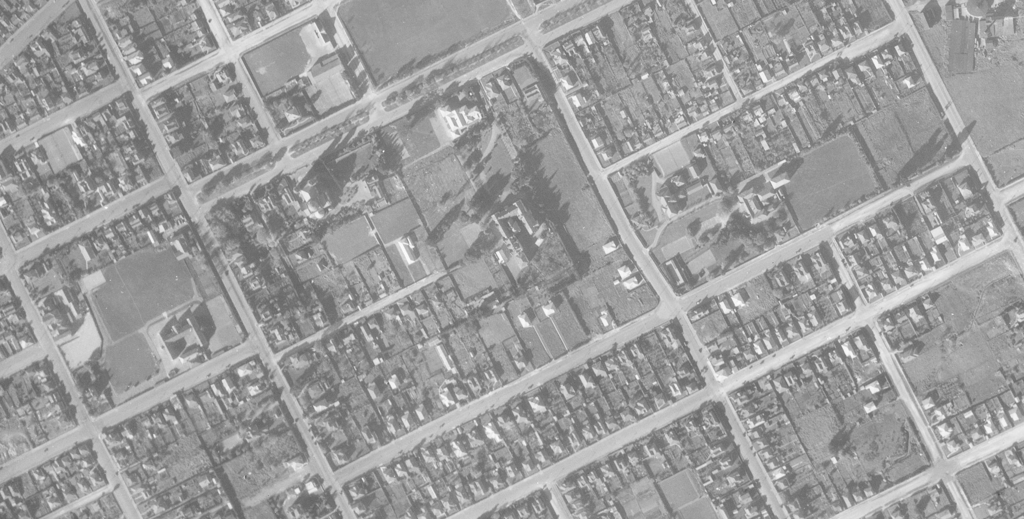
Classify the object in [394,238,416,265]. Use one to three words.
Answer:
building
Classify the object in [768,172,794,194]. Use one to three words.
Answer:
building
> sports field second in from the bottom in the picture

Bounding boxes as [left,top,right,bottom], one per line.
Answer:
[92,245,202,341]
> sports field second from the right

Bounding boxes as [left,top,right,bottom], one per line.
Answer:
[338,0,516,84]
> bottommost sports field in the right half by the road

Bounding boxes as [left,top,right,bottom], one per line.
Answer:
[788,134,881,231]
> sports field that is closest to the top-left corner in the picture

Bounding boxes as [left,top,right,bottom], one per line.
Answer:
[242,30,310,96]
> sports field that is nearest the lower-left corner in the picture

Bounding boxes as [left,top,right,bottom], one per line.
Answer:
[106,336,157,395]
